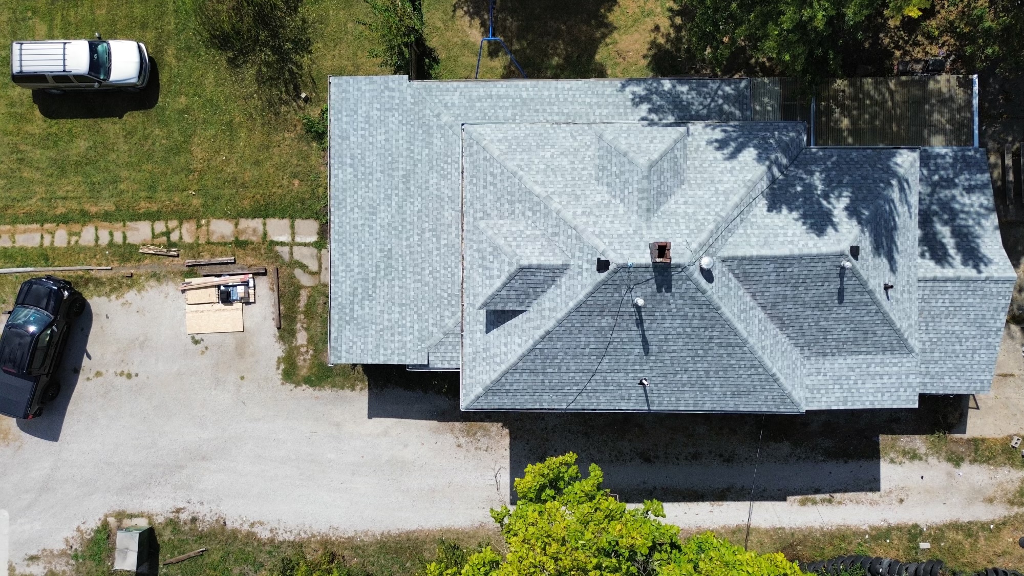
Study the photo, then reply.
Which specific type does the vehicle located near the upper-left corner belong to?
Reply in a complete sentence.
Looking closely, the vehicle located near the upper-left corner is an automobile.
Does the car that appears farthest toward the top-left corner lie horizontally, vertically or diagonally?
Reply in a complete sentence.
The car that appears farthest toward the top-left corner has been laid out horizontally relative to the frame.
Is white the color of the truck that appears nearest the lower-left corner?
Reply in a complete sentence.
No, from above the truck that appears nearest the lower-left corner looks black.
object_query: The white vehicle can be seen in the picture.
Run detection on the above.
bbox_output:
[9,30,152,92]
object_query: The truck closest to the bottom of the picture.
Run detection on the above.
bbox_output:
[0,275,82,422]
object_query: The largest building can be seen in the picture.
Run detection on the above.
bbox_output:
[325,74,1018,415]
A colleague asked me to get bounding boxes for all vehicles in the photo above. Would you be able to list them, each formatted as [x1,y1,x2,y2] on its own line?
[0,275,82,422]
[9,30,152,92]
